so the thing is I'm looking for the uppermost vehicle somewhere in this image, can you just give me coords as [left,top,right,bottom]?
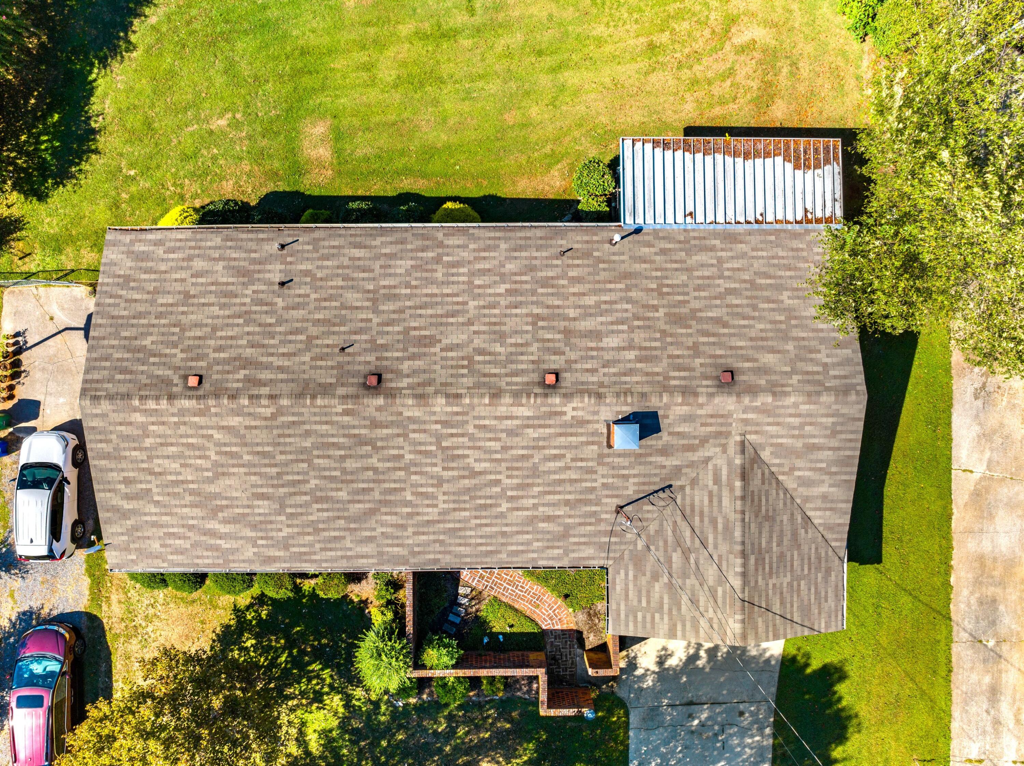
[5,434,85,565]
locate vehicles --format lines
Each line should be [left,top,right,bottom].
[5,434,85,565]
[8,626,90,766]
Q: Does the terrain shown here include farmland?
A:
No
